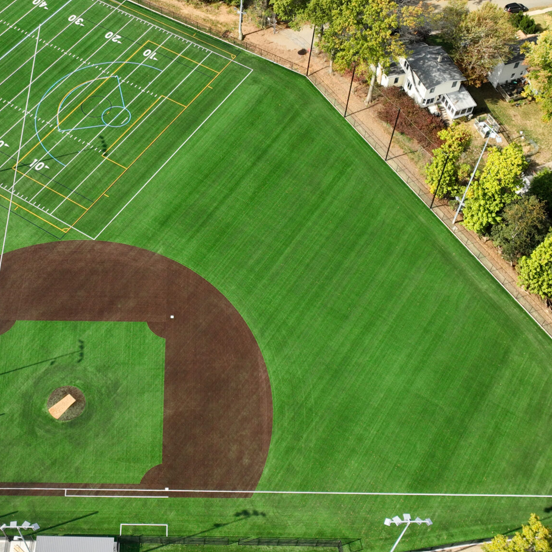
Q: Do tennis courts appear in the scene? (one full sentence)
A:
No, I can't see a single tennis court in this photo.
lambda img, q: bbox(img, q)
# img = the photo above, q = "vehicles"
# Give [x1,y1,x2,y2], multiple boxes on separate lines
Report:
[503,0,529,14]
